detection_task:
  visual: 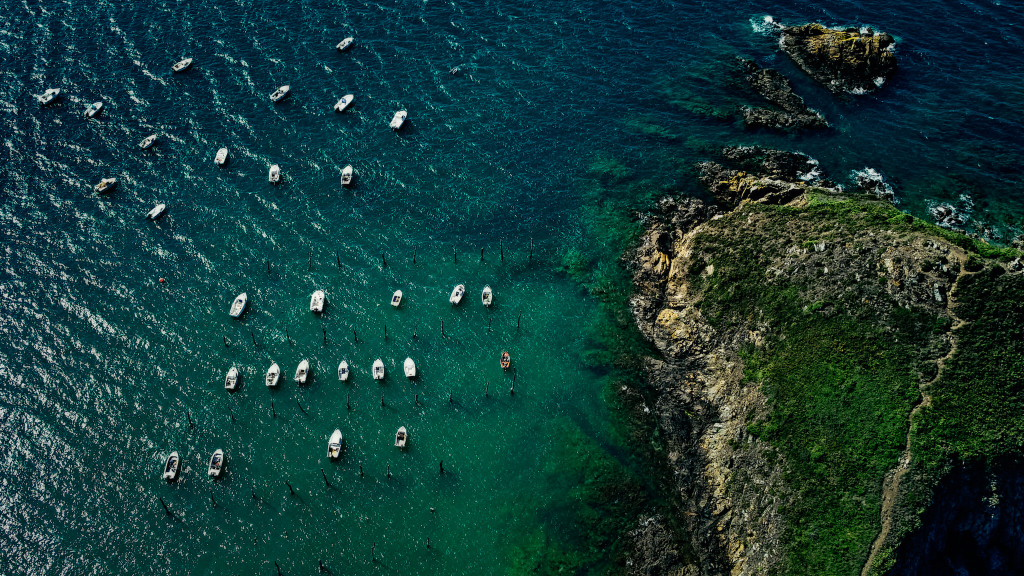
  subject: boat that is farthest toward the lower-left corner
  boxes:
[162,451,180,483]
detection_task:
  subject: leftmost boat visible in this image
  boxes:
[38,88,60,105]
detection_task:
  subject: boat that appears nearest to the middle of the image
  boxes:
[481,282,493,307]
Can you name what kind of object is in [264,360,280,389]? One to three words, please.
boat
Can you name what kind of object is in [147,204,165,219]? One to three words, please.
boat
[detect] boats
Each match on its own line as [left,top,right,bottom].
[334,94,354,113]
[337,359,350,384]
[294,357,310,386]
[162,451,180,483]
[372,355,385,383]
[325,426,343,461]
[394,425,408,451]
[403,356,417,380]
[224,363,238,392]
[229,291,247,319]
[171,56,192,72]
[340,164,354,187]
[270,84,289,102]
[449,282,465,308]
[138,133,156,150]
[208,448,225,480]
[214,147,229,166]
[481,282,493,307]
[389,109,408,130]
[449,66,459,75]
[95,177,116,194]
[264,360,280,389]
[336,37,353,51]
[310,287,327,315]
[84,102,103,118]
[268,164,280,185]
[38,88,60,105]
[147,204,165,219]
[500,352,510,370]
[389,289,403,308]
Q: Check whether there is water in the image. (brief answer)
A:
Yes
